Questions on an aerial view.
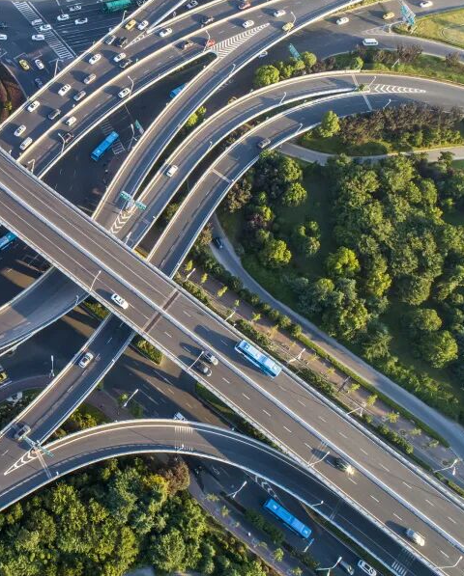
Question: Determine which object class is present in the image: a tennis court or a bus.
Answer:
bus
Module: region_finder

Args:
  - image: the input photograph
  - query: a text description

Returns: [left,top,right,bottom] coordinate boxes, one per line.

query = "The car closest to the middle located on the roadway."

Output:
[211,234,223,251]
